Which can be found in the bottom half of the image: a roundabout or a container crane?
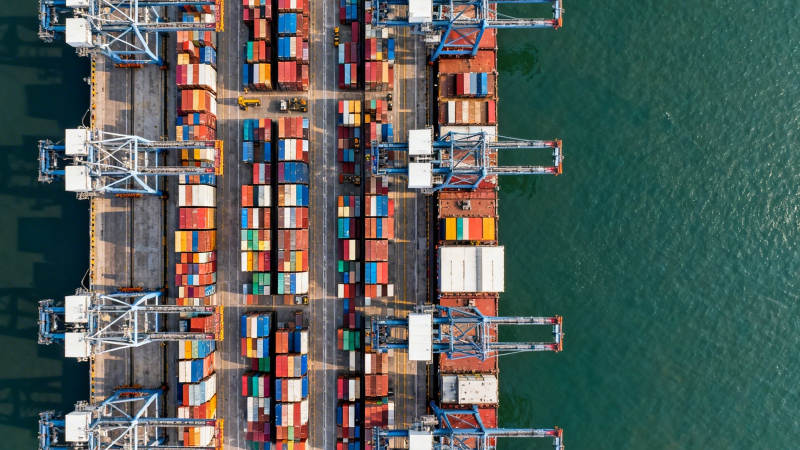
container crane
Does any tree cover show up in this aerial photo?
No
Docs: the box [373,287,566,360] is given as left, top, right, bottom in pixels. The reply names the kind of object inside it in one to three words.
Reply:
container crane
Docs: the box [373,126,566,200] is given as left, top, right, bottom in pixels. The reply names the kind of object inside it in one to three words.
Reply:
container crane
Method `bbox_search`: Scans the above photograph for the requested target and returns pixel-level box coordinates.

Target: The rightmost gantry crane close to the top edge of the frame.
[373,0,566,70]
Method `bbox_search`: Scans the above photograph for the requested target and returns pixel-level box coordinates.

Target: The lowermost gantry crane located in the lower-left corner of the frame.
[32,377,225,450]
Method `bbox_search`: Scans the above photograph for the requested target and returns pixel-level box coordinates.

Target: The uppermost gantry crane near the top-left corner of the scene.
[32,0,225,72]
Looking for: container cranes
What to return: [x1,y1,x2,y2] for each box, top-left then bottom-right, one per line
[32,126,225,200]
[373,388,566,450]
[32,0,225,72]
[373,287,566,360]
[32,377,225,450]
[32,276,225,357]
[373,0,566,70]
[373,126,566,200]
